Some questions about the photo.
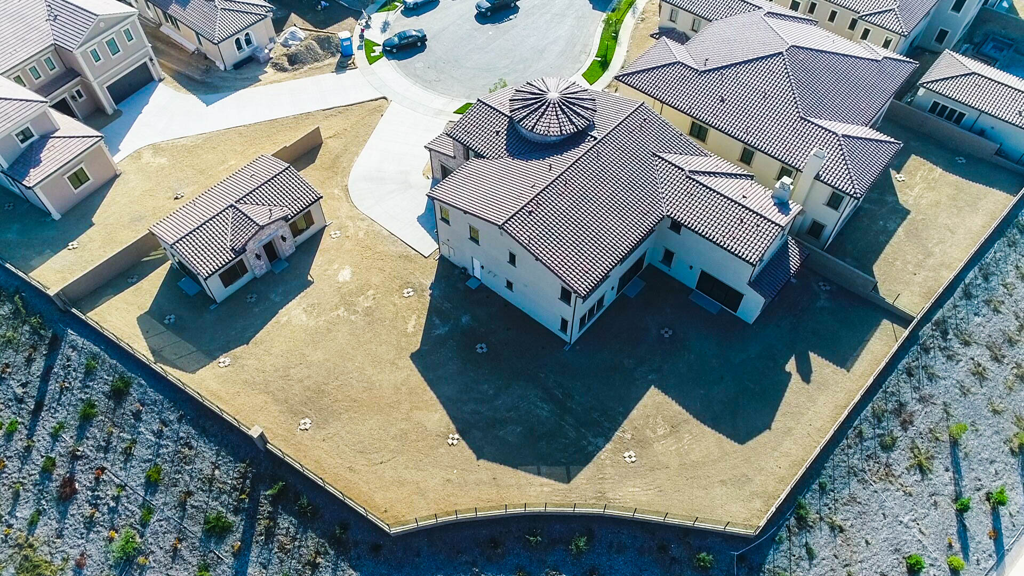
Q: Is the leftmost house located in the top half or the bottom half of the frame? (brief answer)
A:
top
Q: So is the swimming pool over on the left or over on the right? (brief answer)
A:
right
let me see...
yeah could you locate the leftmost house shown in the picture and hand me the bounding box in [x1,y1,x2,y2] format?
[0,0,164,221]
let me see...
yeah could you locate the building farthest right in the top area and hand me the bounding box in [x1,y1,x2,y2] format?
[910,48,1024,163]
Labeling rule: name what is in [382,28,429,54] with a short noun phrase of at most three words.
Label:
car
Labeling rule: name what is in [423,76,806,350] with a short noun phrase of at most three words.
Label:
house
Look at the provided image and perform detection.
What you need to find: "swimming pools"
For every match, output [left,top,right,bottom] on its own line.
[950,24,1024,79]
